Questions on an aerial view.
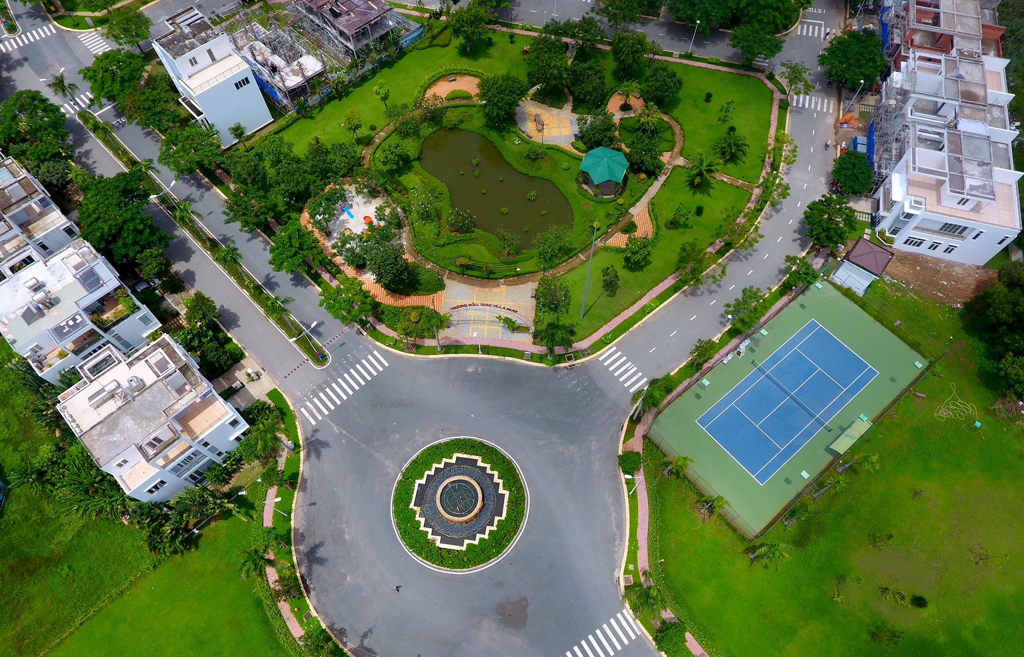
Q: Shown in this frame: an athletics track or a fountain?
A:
fountain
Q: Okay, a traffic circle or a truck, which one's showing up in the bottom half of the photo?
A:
traffic circle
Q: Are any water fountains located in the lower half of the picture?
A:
Yes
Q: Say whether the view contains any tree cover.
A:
Yes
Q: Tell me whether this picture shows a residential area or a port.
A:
residential area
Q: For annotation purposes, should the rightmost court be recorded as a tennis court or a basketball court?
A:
tennis court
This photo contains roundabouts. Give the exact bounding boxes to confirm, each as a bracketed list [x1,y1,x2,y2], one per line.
[390,437,531,580]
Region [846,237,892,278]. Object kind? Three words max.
shed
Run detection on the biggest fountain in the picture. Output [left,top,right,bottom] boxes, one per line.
[408,452,511,556]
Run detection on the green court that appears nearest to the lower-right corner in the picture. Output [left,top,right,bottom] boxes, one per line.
[653,280,929,531]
